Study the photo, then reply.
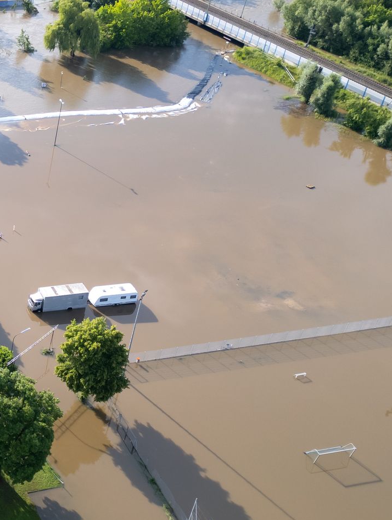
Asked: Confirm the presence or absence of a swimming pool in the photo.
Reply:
No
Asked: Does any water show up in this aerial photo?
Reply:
Yes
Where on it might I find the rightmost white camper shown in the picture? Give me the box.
[89,283,138,305]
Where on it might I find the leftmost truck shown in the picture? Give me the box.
[25,284,90,309]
